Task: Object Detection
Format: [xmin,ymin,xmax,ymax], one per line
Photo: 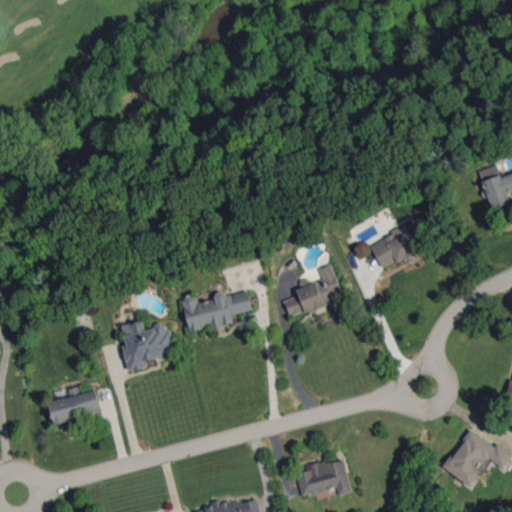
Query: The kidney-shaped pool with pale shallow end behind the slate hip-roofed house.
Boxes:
[137,292,166,315]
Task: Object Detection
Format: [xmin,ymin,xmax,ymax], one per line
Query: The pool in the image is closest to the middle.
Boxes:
[303,246,324,270]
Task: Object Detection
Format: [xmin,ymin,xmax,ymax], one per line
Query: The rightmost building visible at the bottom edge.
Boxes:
[443,432,512,490]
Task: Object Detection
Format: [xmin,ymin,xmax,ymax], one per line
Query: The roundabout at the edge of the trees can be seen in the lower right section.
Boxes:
[394,352,456,419]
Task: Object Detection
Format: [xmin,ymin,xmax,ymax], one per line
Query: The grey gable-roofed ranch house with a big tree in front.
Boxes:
[48,386,101,427]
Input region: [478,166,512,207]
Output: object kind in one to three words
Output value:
house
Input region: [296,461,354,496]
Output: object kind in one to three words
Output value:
house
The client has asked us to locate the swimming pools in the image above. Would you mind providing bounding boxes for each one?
[504,156,512,172]
[355,224,378,242]
[137,292,166,315]
[303,246,324,270]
